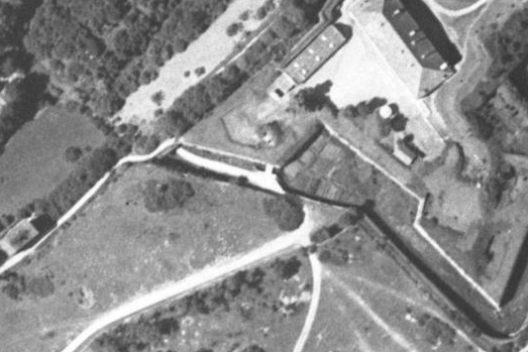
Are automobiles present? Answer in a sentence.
No, the frame has no automobile in it.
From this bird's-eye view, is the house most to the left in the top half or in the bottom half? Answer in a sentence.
The house most to the left sits in the bottom half of the picture.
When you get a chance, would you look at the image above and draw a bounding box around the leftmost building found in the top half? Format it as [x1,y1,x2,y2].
[270,73,296,99]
